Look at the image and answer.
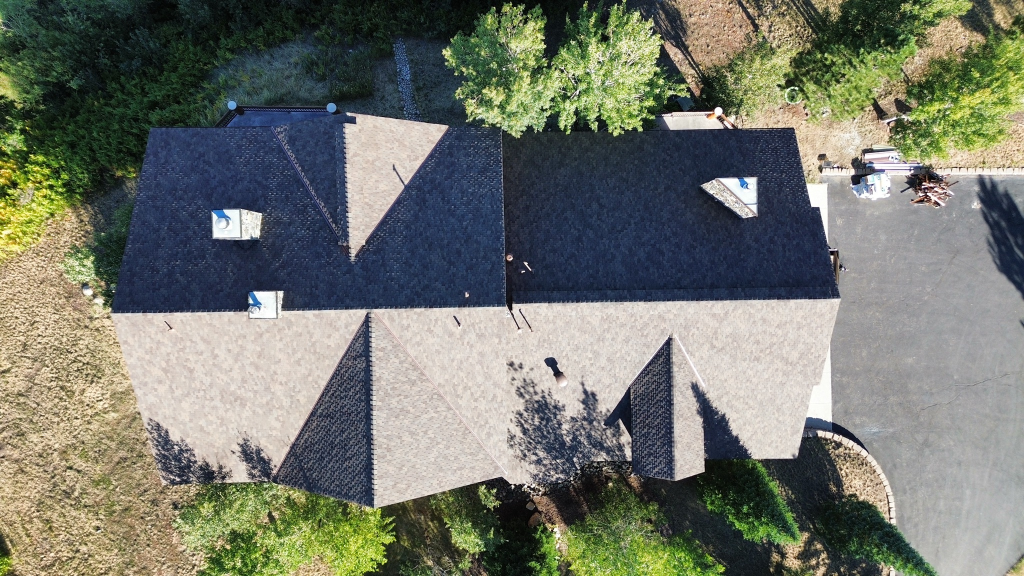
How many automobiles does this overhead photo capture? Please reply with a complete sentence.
The photo contains no automobiles.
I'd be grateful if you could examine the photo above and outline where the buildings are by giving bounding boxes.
[110,111,848,508]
